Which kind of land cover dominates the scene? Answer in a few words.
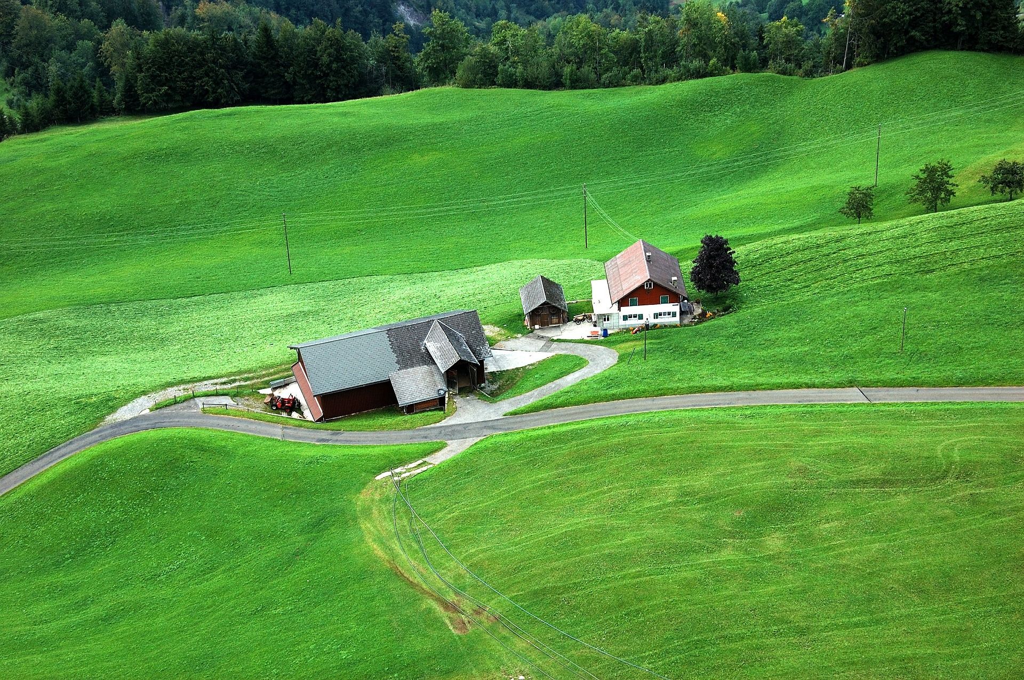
grass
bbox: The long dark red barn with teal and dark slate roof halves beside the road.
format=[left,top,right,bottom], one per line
[287,310,494,423]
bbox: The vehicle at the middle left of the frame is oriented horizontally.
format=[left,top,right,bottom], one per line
[258,395,301,413]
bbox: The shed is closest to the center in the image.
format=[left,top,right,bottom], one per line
[519,275,568,331]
